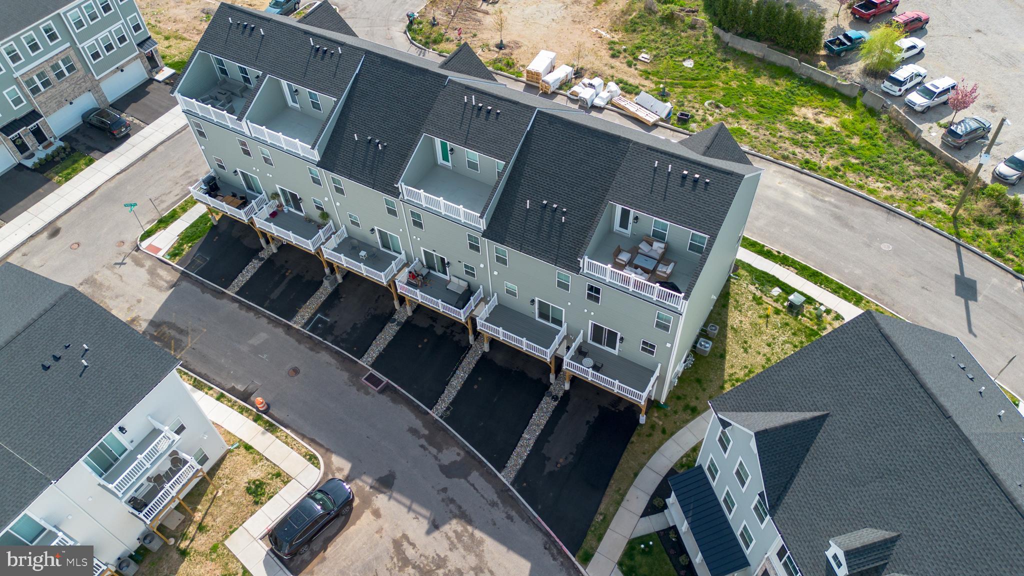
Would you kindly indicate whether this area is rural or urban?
urban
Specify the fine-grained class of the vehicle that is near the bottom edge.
car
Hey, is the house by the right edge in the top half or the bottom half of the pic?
bottom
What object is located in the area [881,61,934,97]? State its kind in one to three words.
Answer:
car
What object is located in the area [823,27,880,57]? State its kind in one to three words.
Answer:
truck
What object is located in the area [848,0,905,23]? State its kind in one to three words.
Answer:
truck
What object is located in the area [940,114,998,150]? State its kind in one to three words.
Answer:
car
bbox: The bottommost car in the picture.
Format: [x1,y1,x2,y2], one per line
[265,480,356,563]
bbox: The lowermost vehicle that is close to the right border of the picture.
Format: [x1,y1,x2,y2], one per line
[993,146,1024,182]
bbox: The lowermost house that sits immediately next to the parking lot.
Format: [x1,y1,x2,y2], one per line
[660,310,1024,576]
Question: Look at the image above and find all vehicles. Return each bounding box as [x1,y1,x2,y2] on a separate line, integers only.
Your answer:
[993,146,1024,182]
[81,105,131,137]
[882,34,930,63]
[265,480,356,563]
[883,7,936,35]
[901,74,961,115]
[848,0,905,23]
[823,27,880,57]
[881,61,934,97]
[940,114,998,150]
